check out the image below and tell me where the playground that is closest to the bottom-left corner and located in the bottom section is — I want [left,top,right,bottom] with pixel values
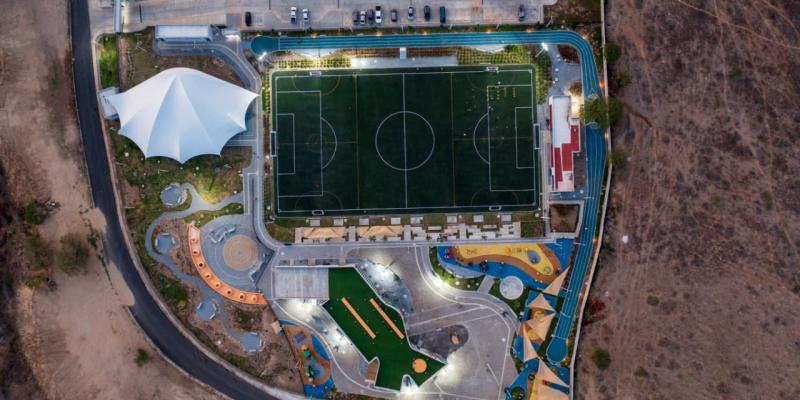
[280,320,334,397]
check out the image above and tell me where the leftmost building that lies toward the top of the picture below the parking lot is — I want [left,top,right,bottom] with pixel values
[98,87,121,120]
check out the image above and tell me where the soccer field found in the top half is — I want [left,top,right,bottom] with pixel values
[274,65,539,217]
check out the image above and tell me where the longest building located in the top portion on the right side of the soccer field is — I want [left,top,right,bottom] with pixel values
[549,97,580,192]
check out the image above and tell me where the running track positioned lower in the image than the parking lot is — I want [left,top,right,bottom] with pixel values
[250,30,605,363]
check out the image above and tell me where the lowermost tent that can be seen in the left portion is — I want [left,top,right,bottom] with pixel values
[109,67,265,168]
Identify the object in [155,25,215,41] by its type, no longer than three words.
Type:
building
